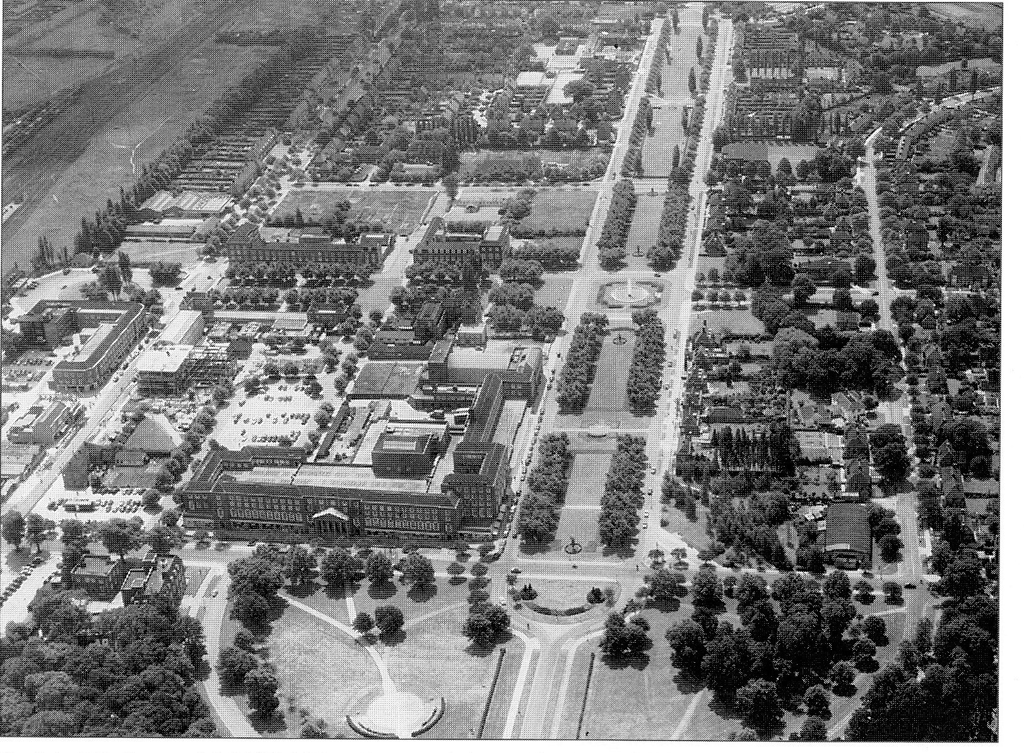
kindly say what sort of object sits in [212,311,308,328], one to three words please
shed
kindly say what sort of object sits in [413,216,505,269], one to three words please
building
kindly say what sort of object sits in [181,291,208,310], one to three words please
building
